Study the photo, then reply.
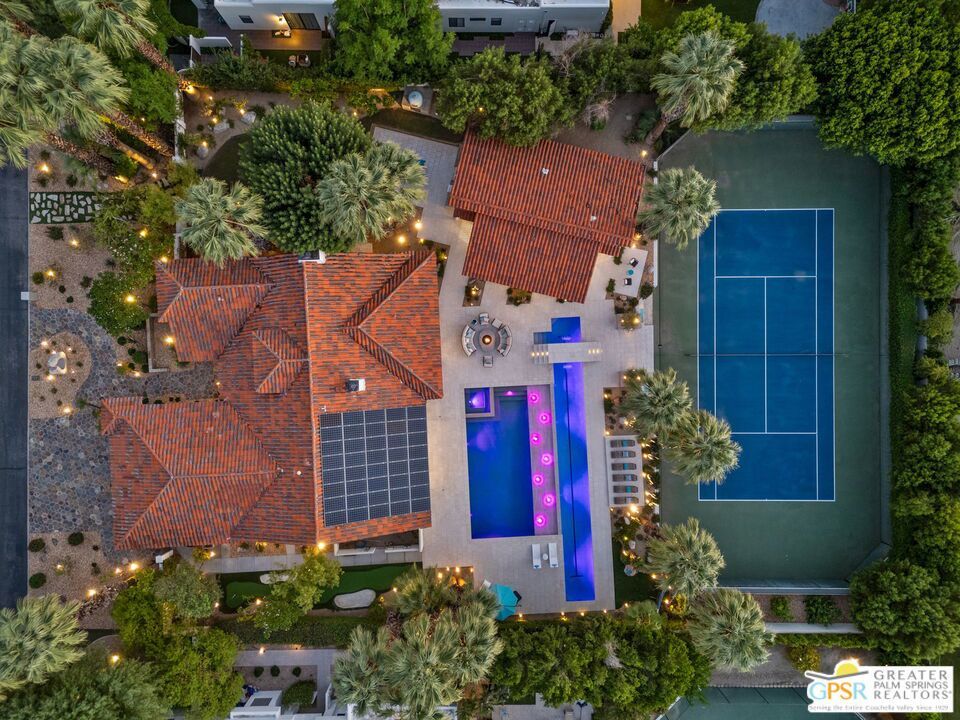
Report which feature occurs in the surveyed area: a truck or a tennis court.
tennis court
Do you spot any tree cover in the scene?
Yes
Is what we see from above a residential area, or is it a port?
residential area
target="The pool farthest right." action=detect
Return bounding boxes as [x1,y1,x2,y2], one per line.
[534,317,595,601]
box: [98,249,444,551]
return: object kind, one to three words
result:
house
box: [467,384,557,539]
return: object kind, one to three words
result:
swimming pool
